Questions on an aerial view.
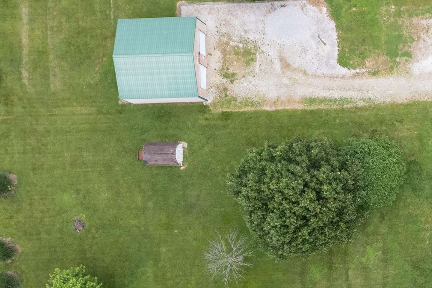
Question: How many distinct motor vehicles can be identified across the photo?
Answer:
none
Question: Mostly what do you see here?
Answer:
grass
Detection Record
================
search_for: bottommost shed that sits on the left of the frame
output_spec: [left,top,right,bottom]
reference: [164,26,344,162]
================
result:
[142,141,183,164]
